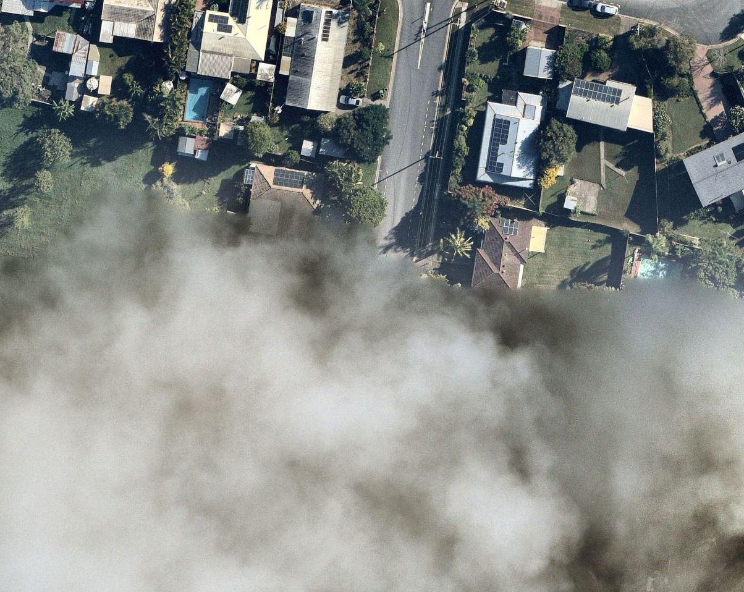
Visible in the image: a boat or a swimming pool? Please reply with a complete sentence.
It is a swimming pool that can be seen here.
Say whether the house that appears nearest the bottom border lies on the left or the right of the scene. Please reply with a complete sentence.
The house that appears nearest the bottom border sits on the right side.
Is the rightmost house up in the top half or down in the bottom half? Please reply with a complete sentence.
The rightmost house sits in the top half of the picture.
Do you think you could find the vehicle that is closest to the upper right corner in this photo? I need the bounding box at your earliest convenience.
[595,2,618,15]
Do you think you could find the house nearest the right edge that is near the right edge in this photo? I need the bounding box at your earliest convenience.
[683,133,744,213]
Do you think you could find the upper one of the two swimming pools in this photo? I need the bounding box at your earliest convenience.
[182,76,221,126]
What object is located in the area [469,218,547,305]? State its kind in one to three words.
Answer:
house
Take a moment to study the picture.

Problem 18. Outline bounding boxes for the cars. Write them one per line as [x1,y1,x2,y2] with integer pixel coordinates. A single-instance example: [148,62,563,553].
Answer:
[595,2,618,15]
[340,96,362,105]
[568,0,595,9]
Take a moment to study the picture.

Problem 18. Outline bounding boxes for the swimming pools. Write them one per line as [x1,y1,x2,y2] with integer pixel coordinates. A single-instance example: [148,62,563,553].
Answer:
[182,76,221,126]
[630,249,684,287]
